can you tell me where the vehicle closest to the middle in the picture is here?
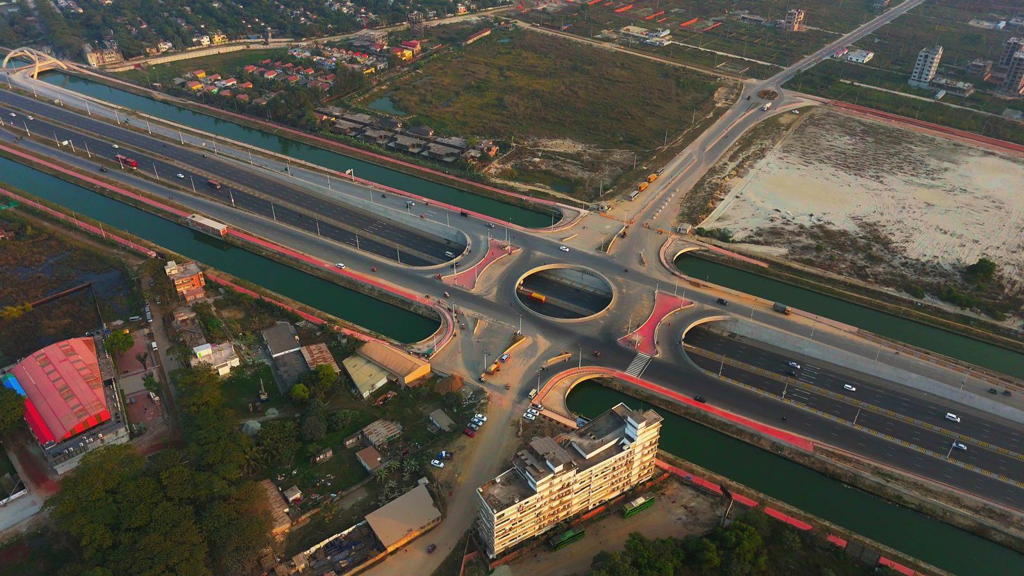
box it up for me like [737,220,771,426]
[527,290,550,303]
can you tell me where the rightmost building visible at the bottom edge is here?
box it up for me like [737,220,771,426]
[474,398,664,554]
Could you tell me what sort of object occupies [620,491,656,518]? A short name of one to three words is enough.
bus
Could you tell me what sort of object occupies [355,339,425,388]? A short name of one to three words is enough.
building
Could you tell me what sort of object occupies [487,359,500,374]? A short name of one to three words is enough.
vehicle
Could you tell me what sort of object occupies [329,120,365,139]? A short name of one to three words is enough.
house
